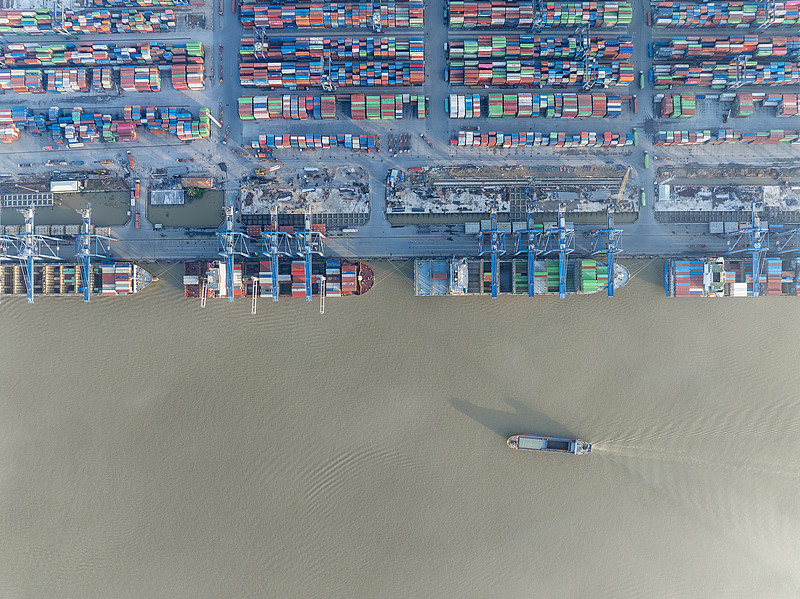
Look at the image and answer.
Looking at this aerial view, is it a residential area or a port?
port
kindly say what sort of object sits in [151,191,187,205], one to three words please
shed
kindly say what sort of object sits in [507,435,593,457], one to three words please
ship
